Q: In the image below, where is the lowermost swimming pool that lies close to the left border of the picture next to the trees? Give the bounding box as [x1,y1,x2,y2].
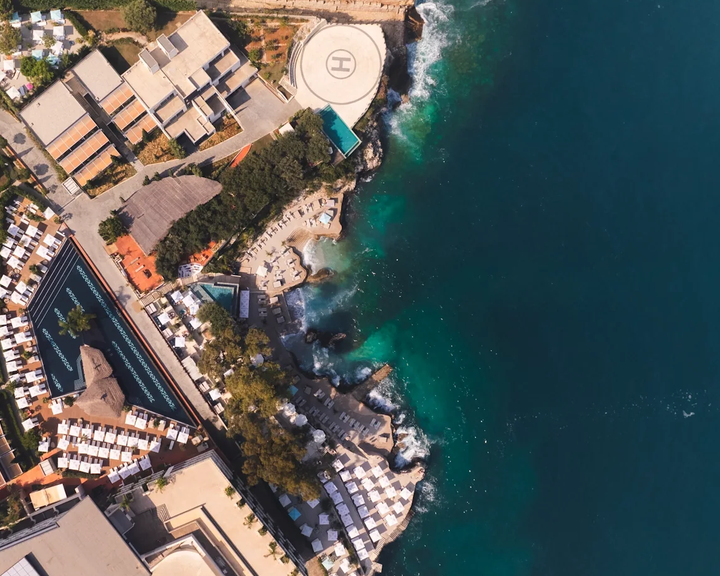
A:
[28,236,198,427]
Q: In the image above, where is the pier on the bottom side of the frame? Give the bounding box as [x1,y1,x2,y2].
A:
[342,372,380,402]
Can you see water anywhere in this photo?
Yes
